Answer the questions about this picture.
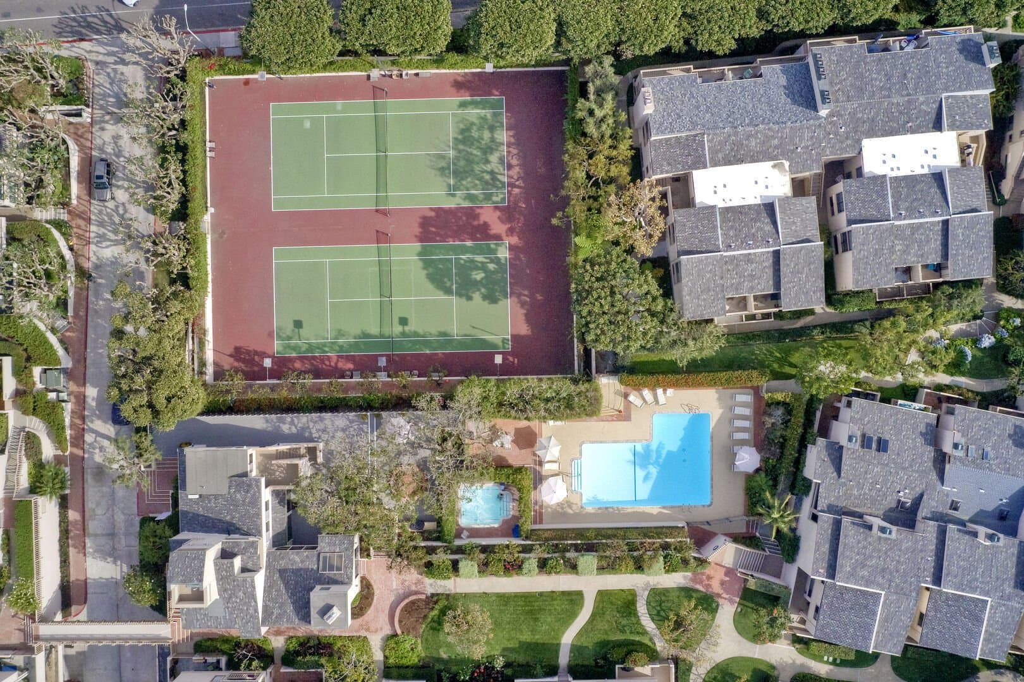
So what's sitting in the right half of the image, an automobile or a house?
house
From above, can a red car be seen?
No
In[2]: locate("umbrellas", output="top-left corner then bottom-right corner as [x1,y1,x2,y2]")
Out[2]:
[535,434,561,461]
[733,445,761,473]
[540,476,568,504]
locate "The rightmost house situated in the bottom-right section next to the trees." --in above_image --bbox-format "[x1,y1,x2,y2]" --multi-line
[908,388,1024,666]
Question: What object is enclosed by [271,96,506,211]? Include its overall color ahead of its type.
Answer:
green tennis court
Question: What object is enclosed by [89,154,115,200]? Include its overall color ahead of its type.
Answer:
gray car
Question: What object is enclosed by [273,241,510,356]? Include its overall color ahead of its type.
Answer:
green tennis court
